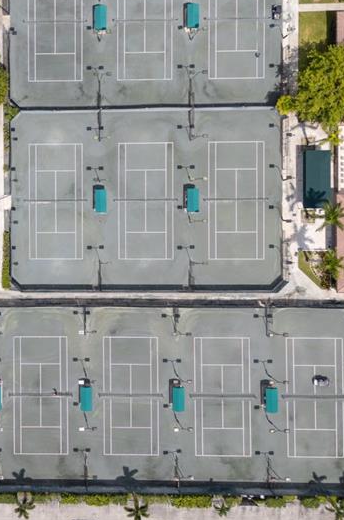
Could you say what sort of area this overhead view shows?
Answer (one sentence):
This looks like a sports ground.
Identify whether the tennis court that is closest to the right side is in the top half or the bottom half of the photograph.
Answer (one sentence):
The tennis court that is closest to the right side sits in the bottom half of the picture.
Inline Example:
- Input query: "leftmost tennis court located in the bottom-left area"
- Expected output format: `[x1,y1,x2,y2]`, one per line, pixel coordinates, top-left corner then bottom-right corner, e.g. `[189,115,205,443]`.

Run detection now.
[0,309,86,486]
